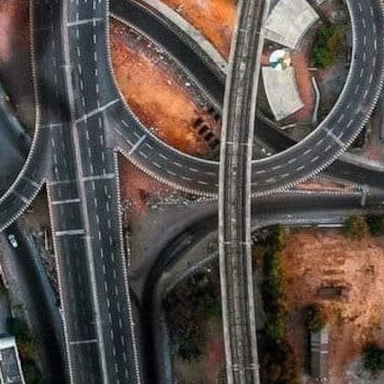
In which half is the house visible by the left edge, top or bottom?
bottom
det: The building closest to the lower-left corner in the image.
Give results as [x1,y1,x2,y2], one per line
[0,332,27,384]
